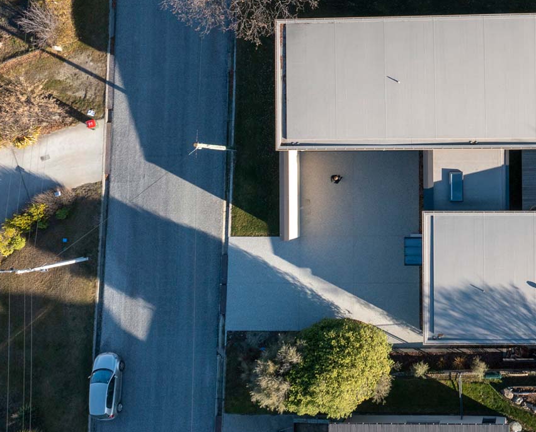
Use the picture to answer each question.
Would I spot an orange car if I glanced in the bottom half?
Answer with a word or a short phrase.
No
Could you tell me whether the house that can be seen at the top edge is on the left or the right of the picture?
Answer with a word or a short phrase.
right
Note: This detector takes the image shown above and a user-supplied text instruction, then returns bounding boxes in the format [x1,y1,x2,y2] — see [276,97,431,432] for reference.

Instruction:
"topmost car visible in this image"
[89,354,126,423]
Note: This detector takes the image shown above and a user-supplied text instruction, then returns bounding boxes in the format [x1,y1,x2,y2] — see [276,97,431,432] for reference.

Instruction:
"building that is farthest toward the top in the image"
[276,13,536,151]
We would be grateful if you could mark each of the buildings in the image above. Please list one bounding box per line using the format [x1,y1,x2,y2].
[423,209,536,346]
[276,13,536,151]
[327,405,511,432]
